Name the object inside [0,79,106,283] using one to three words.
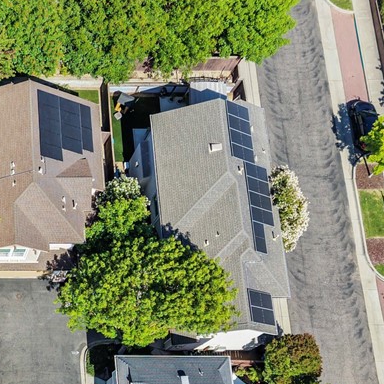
house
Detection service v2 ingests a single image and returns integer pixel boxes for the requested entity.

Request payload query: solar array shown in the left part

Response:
[38,88,94,160]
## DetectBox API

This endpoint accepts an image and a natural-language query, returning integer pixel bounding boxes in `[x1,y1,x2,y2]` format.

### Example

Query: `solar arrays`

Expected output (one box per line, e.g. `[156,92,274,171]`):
[38,88,94,160]
[228,100,275,253]
[249,289,276,325]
